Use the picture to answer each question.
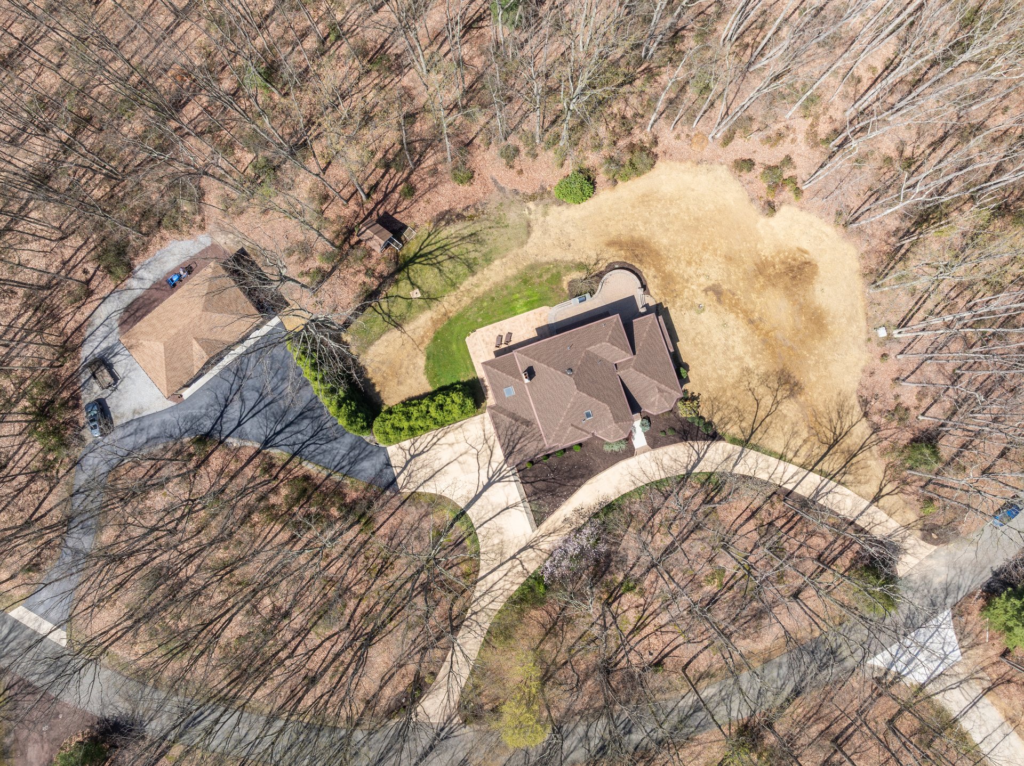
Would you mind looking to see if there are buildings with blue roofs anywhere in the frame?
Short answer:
No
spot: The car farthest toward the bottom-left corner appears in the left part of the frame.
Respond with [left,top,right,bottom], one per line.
[84,401,110,440]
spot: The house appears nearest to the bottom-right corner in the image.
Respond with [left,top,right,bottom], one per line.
[480,311,684,469]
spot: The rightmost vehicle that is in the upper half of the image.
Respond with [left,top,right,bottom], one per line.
[171,261,200,286]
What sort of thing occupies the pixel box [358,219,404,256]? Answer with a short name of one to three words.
shed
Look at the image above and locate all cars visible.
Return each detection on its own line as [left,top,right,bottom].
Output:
[84,401,110,440]
[990,502,1024,531]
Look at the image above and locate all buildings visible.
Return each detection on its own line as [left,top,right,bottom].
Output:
[119,261,267,399]
[480,311,684,469]
[358,219,404,256]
